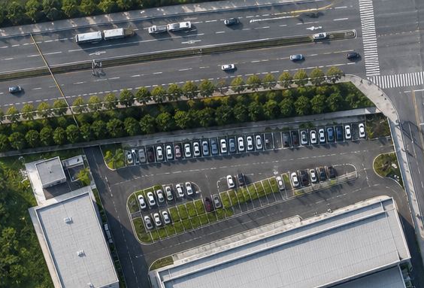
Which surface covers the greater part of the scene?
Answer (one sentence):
Most of the picture is covered by paved ground.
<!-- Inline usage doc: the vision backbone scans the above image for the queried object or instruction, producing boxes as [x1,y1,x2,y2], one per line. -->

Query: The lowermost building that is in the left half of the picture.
[28,187,122,288]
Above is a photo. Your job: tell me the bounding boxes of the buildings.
[35,157,67,192]
[28,187,122,288]
[62,155,83,173]
[153,198,409,288]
